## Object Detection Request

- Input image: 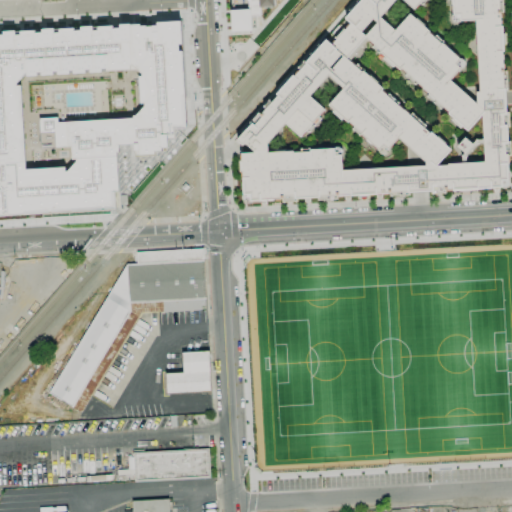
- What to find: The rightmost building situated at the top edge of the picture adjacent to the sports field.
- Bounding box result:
[237,0,512,203]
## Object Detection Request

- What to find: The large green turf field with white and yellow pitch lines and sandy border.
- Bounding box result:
[250,246,512,470]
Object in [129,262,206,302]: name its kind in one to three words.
building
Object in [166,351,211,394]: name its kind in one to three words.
building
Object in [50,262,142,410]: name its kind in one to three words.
shed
